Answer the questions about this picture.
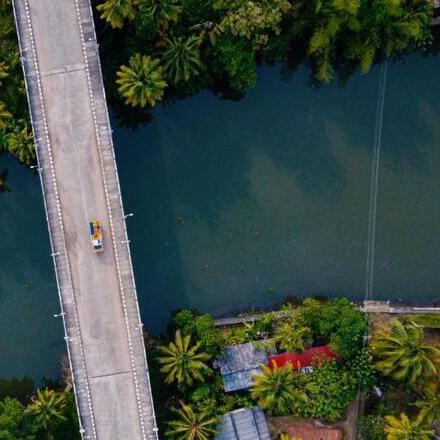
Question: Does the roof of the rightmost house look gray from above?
No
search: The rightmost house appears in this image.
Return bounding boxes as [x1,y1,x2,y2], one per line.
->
[301,344,339,364]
